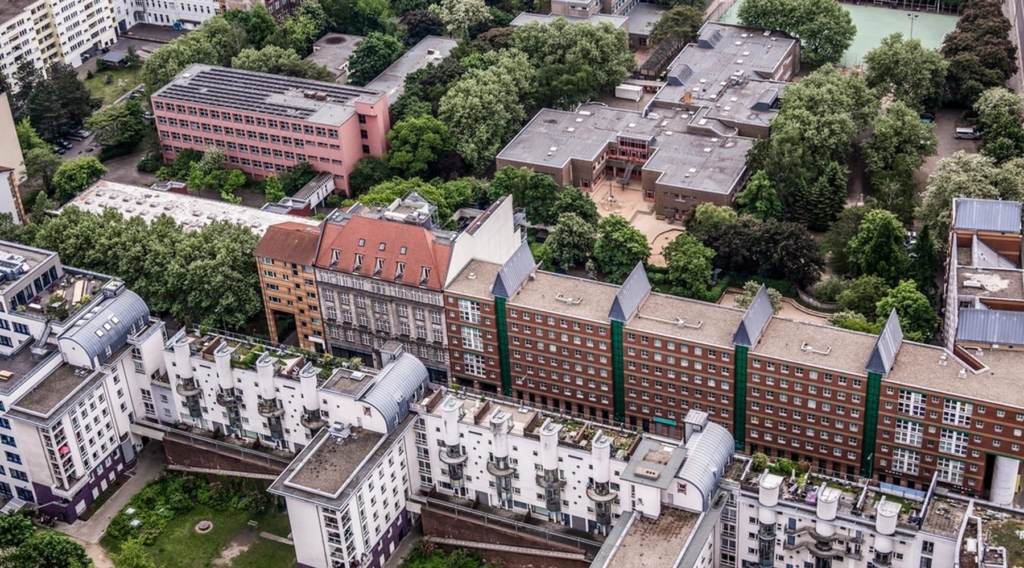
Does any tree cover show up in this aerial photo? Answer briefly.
Yes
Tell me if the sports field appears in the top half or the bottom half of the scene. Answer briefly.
top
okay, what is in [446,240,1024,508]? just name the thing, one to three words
building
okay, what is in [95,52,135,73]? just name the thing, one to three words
shed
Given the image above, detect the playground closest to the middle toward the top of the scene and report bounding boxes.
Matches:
[577,170,689,272]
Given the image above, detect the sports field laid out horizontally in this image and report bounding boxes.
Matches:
[719,0,961,73]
